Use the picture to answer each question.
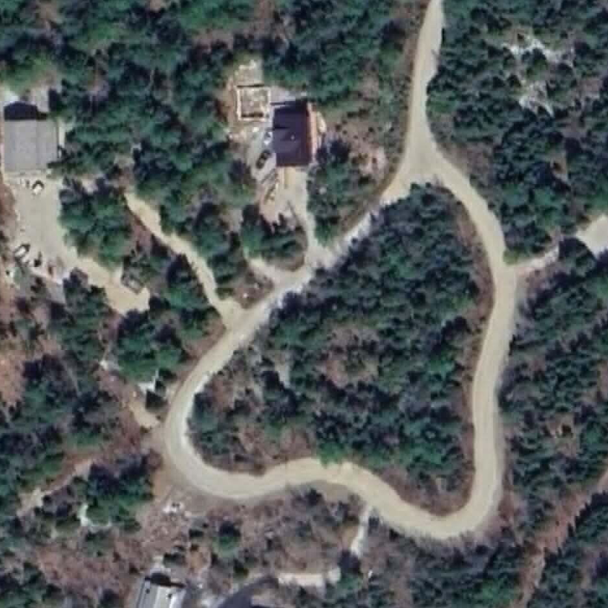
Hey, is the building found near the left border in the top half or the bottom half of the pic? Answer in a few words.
top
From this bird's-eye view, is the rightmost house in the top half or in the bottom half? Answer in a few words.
top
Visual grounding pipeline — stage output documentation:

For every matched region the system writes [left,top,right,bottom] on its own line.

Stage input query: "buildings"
[139,579,186,608]
[275,106,321,166]
[4,119,59,168]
